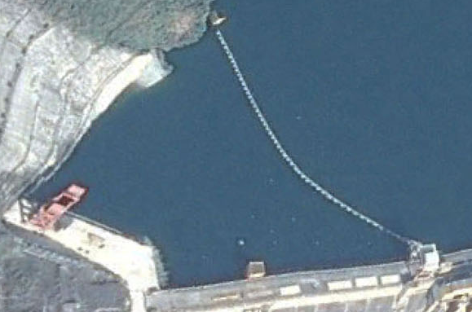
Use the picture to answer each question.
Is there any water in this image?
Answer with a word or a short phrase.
Yes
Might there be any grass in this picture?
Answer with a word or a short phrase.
No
